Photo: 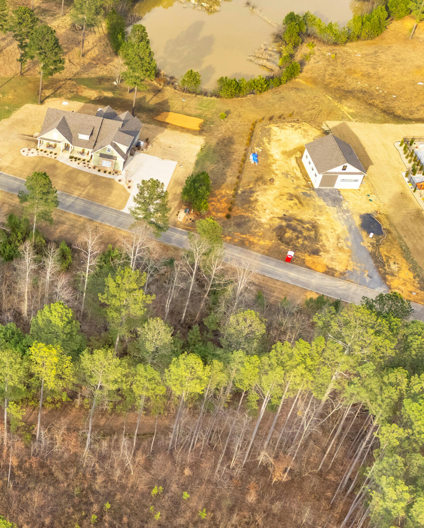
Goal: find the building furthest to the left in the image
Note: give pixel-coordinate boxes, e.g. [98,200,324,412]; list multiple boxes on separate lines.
[36,107,145,170]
